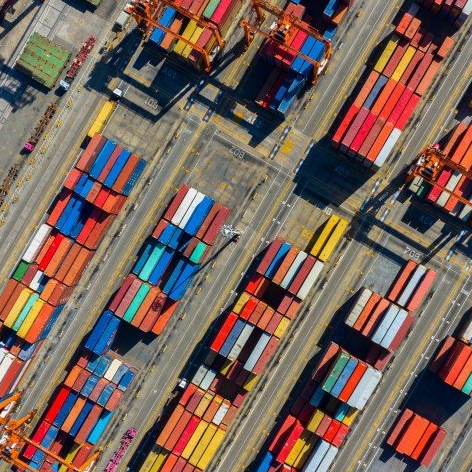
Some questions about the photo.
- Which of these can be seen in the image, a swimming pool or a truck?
truck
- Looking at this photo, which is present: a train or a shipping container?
shipping container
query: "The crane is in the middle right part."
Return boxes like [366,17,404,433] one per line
[397,146,472,226]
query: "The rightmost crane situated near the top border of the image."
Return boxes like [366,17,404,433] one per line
[239,0,334,91]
